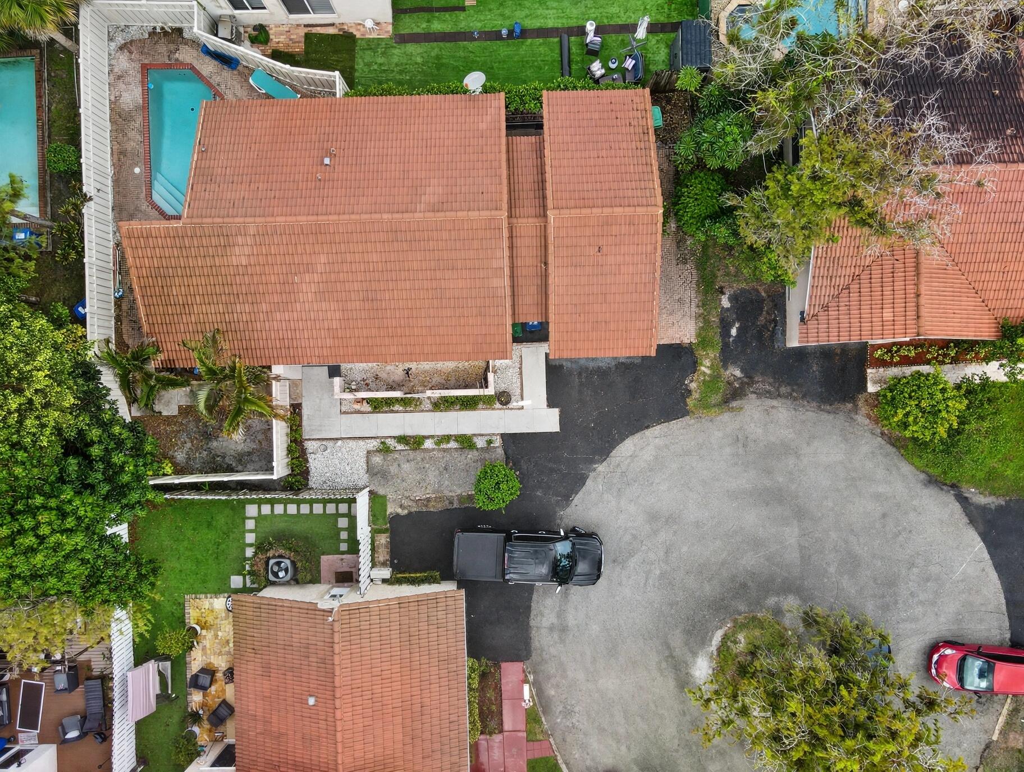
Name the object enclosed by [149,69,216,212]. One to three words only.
swimming pool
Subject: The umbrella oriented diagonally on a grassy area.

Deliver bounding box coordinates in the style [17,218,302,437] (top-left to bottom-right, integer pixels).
[622,16,648,50]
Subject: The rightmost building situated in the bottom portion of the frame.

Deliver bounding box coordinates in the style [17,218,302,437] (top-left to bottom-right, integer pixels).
[175,581,466,772]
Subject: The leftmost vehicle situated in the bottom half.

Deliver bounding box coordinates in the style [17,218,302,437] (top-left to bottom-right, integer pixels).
[452,523,607,596]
